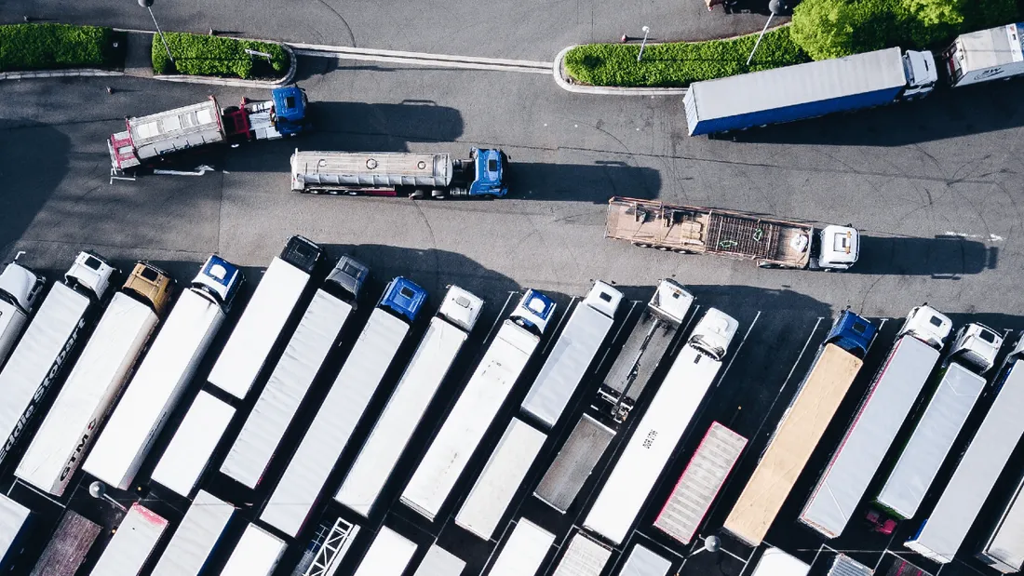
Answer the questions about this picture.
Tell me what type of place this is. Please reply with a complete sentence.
What you see here is a parking lot.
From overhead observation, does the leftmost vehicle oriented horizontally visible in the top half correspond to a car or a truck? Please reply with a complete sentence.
In the photo, the leftmost vehicle oriented horizontally visible in the top half shows up as a truck.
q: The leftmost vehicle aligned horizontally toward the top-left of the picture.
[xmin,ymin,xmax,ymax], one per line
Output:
[103,83,316,189]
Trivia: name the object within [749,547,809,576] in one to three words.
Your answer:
trailer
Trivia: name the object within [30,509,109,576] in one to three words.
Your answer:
trailer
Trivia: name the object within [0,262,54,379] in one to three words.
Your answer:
truck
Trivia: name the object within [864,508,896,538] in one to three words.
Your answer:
work vehicle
